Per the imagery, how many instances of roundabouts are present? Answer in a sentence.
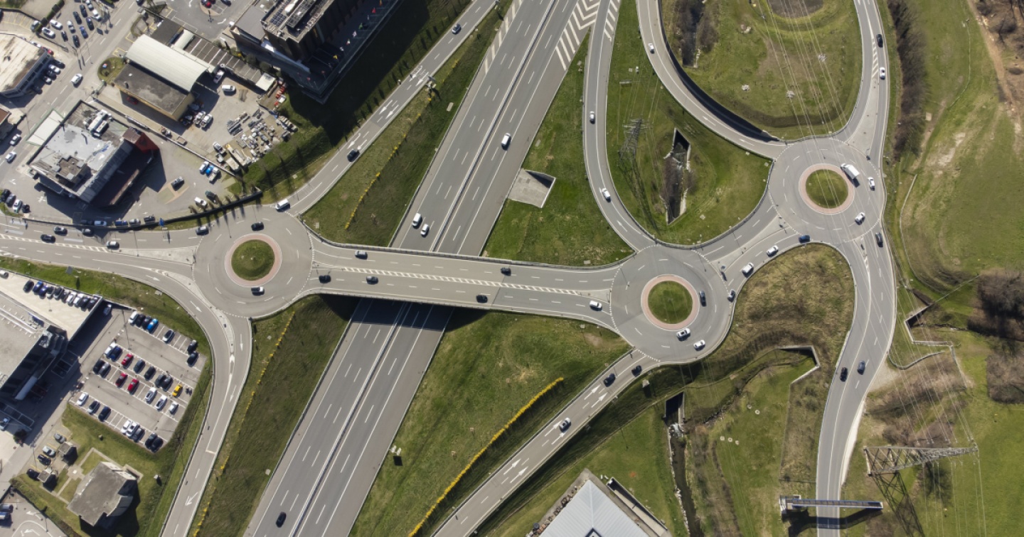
Looking from above, you can make out 3 roundabouts.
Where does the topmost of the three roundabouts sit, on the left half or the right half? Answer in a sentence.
The topmost of the three roundabouts is on the right side of the image.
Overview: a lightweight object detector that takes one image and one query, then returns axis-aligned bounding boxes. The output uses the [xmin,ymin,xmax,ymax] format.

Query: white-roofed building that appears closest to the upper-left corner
[0,32,53,100]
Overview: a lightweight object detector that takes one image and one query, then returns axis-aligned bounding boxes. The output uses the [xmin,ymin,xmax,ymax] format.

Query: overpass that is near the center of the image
[247,214,639,335]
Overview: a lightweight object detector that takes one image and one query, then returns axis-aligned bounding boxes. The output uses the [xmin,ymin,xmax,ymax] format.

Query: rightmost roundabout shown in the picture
[766,134,887,246]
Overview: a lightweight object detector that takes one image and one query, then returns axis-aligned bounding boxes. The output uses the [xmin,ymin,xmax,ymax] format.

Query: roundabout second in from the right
[608,243,733,365]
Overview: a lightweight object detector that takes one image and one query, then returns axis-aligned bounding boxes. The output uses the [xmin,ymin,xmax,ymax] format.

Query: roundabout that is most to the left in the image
[194,204,314,319]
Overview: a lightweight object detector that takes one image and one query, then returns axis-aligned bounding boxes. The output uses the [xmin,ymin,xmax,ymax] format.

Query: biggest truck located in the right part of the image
[840,160,865,183]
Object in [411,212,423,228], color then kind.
white vehicle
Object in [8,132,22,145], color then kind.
gray vehicle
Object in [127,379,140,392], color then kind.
red vehicle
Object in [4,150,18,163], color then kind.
white vehicle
